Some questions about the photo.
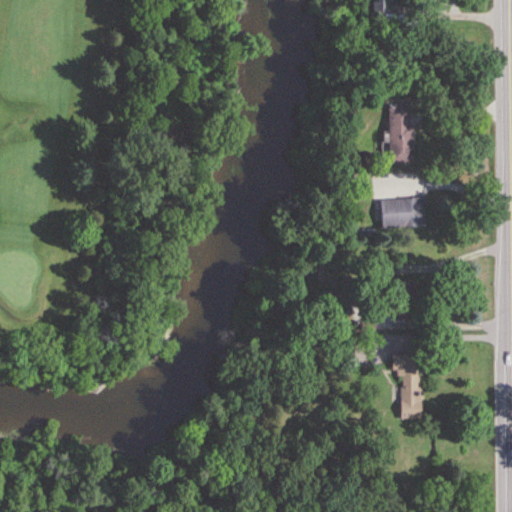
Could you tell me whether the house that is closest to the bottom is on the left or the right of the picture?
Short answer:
right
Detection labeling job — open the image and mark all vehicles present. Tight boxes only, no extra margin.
[373,354,380,364]
[506,354,512,366]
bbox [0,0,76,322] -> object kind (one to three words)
golf course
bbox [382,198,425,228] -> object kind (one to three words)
building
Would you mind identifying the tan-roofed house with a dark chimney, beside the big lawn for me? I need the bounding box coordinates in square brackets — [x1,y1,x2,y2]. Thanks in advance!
[394,352,426,420]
